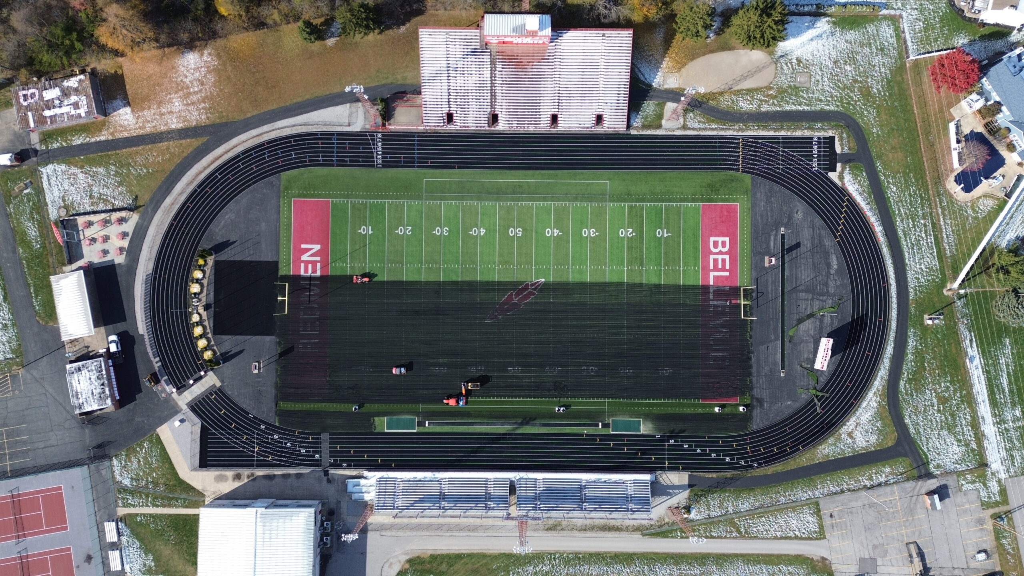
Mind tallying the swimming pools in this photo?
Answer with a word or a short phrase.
1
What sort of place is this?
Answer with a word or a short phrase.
sports ground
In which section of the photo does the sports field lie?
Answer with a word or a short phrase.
center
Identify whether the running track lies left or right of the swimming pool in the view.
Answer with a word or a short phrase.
on its left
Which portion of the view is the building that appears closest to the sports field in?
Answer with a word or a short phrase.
bottom left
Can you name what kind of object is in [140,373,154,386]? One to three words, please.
vehicle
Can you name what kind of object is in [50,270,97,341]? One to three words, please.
building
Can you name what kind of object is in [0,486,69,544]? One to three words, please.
tennis court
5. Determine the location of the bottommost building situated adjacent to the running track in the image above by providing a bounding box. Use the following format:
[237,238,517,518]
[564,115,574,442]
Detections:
[197,495,323,576]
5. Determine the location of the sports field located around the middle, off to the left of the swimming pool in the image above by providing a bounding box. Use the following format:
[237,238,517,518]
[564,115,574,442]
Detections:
[276,169,752,434]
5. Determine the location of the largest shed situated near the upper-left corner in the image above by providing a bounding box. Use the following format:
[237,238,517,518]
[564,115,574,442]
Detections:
[10,73,105,133]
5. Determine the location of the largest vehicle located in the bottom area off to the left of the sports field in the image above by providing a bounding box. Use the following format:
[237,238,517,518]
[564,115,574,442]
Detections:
[109,337,123,362]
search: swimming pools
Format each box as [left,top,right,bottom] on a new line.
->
[954,130,1006,193]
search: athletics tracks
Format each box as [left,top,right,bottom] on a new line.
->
[151,132,889,472]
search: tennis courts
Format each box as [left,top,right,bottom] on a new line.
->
[0,546,76,576]
[0,486,69,544]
